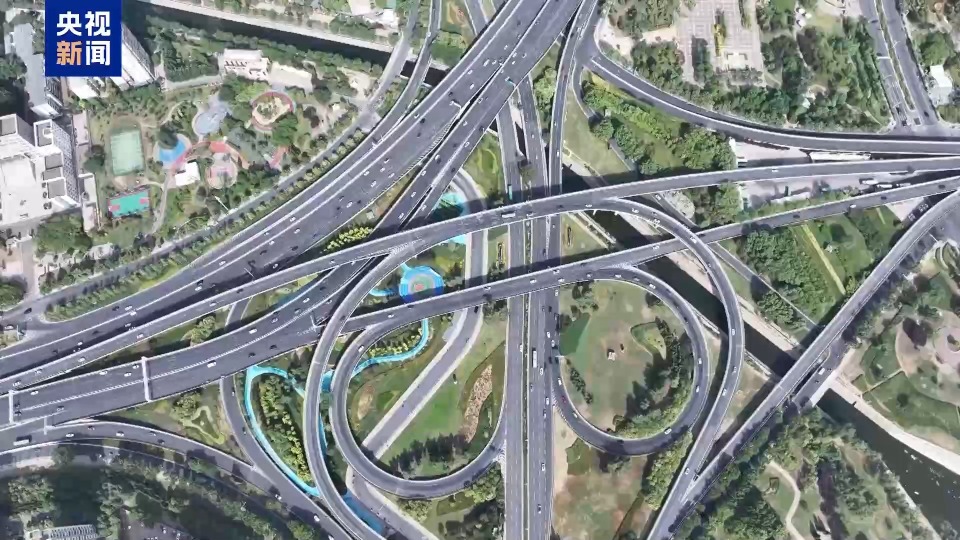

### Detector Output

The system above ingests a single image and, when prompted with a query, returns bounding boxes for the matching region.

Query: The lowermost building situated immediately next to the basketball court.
[83,206,102,232]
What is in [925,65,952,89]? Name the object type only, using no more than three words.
house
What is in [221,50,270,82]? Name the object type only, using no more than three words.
building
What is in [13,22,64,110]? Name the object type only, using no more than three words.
building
